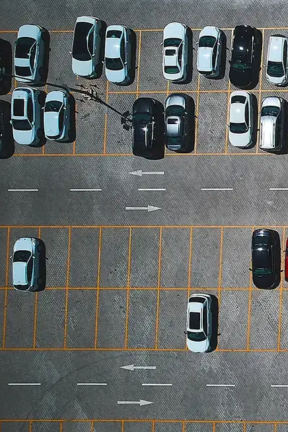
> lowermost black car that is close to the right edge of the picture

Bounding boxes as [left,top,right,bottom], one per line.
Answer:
[247,228,279,289]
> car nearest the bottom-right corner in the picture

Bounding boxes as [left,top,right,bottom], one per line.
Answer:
[182,293,215,352]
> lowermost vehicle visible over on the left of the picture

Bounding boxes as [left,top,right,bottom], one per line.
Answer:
[6,236,41,290]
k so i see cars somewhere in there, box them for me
[247,228,279,289]
[182,293,215,352]
[193,27,224,75]
[69,16,104,78]
[127,97,161,156]
[100,25,134,82]
[6,236,41,290]
[11,26,47,84]
[159,24,191,81]
[226,25,260,88]
[256,97,287,151]
[225,91,255,148]
[4,88,41,144]
[160,93,192,151]
[261,34,288,86]
[38,92,72,140]
[281,236,288,283]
